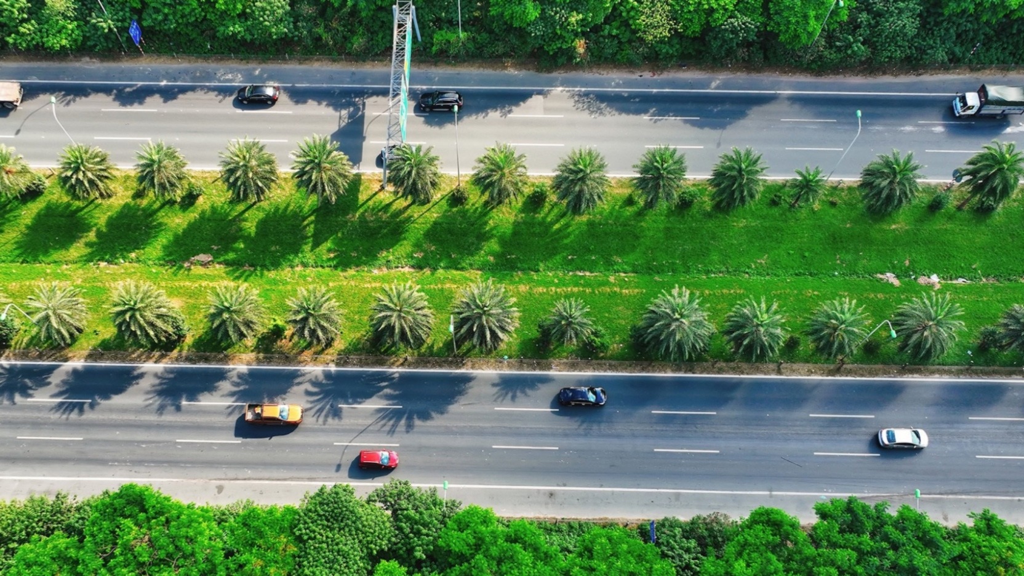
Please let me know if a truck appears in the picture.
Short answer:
Yes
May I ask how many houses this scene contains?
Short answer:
0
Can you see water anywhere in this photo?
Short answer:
No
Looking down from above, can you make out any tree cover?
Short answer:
Yes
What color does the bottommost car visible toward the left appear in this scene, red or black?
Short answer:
red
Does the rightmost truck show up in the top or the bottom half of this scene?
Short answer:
top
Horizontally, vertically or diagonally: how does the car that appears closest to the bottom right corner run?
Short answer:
horizontally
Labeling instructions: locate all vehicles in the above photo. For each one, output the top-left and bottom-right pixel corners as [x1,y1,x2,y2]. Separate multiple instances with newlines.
[420,92,464,114]
[0,82,27,113]
[876,427,929,450]
[950,88,1024,120]
[243,403,304,427]
[237,85,282,106]
[559,386,607,408]
[359,448,400,471]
